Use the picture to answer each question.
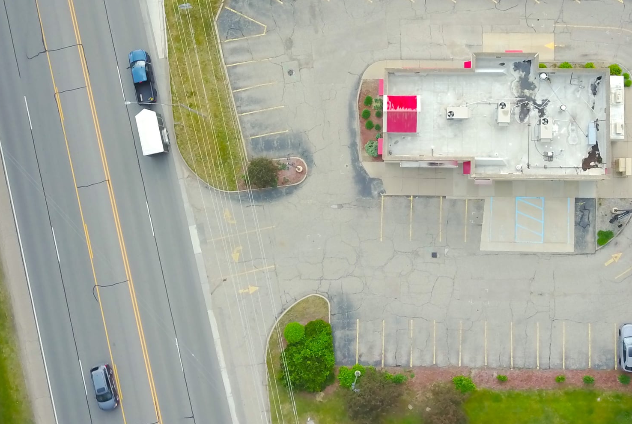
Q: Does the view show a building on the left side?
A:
No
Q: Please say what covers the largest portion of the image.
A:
paved ground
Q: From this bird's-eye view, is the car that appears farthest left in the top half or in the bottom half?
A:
bottom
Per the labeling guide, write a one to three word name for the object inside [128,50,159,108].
truck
